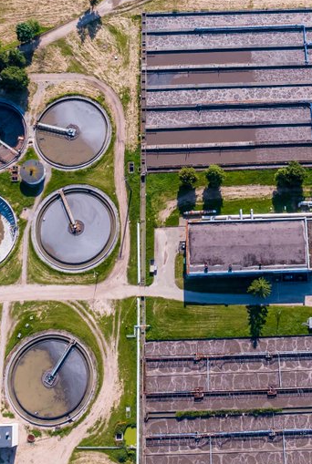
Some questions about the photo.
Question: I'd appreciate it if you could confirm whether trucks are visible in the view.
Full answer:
No, the frame has no truck in it.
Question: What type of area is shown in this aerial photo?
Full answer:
The area seen from above is an industrial area.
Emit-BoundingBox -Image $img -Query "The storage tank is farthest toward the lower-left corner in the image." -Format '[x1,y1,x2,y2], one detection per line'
[4,330,97,429]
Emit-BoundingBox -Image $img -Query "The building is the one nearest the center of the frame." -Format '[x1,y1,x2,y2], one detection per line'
[180,217,312,283]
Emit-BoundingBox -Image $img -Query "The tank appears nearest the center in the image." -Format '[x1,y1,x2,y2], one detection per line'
[31,184,120,273]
